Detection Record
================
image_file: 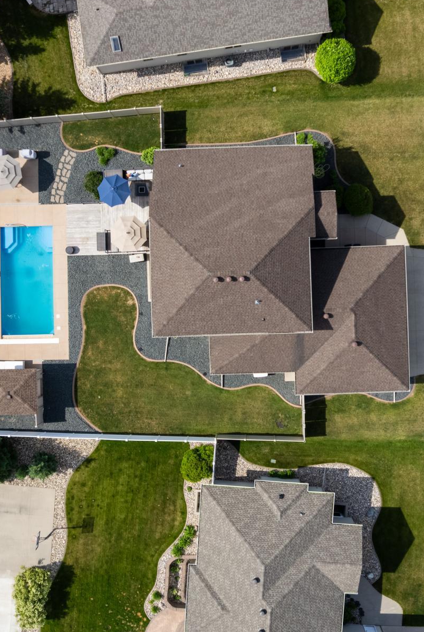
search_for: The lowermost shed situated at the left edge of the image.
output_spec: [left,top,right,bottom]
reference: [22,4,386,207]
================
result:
[0,364,48,416]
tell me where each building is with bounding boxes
[184,472,382,632]
[77,0,332,75]
[0,364,48,416]
[147,144,410,395]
